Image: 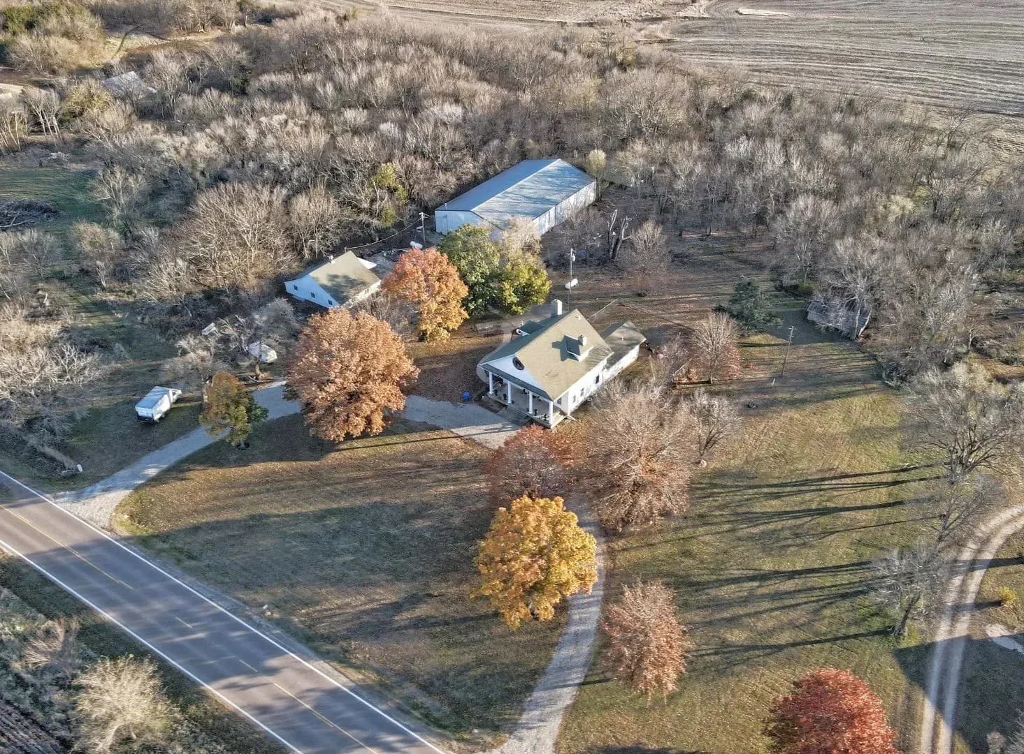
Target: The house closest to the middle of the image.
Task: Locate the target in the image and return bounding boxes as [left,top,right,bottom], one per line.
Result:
[477,295,645,429]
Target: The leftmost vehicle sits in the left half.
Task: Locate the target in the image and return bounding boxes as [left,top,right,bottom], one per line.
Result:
[135,385,186,422]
